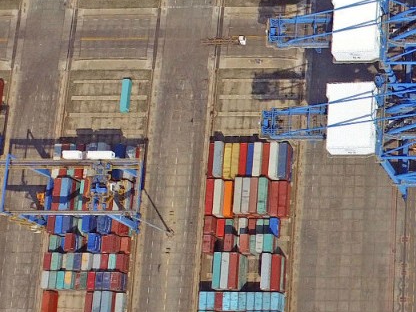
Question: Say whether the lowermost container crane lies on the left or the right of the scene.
left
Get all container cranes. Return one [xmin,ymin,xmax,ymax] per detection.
[0,143,146,233]
[260,73,416,202]
[266,0,416,108]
